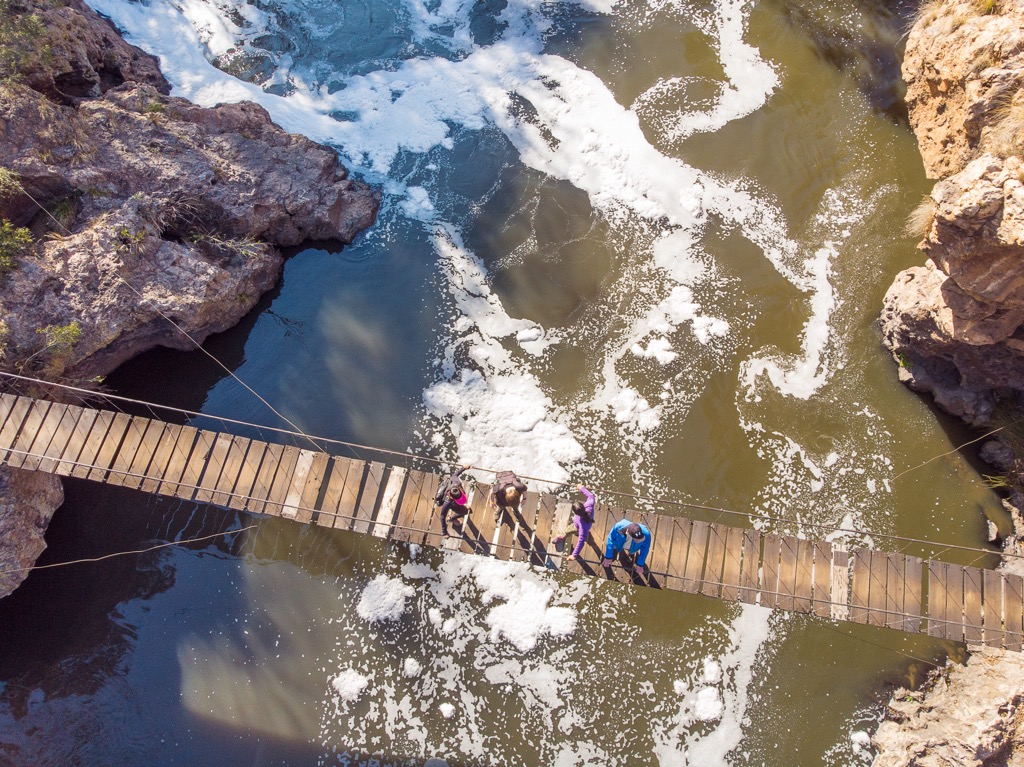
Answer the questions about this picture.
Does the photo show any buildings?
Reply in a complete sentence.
No, the frame has no building in it.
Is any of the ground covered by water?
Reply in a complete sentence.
Yes, there is water in the image.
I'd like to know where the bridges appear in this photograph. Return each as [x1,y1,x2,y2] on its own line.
[0,372,1024,655]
